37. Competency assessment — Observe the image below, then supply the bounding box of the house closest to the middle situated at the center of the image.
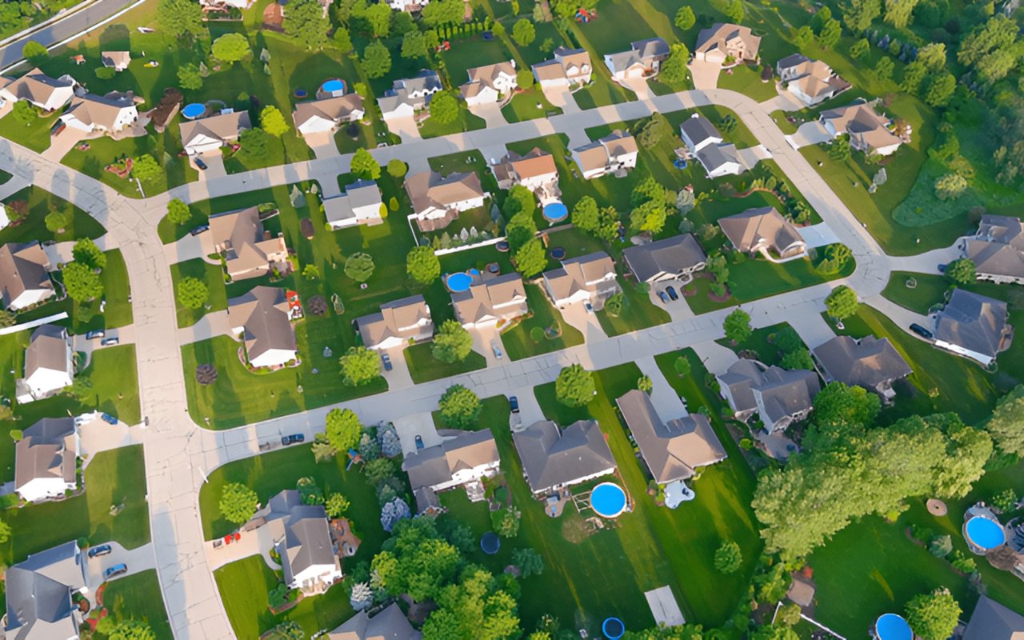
[451,275,533,332]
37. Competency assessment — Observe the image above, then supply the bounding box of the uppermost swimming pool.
[322,80,344,92]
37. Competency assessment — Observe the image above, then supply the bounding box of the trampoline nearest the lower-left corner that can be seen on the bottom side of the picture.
[479,533,500,554]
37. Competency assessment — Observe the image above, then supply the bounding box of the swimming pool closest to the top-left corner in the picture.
[182,105,205,119]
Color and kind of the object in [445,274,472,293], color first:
blue swimming pool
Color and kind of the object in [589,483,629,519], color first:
blue swimming pool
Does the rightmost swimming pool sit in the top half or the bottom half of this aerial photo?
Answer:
bottom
